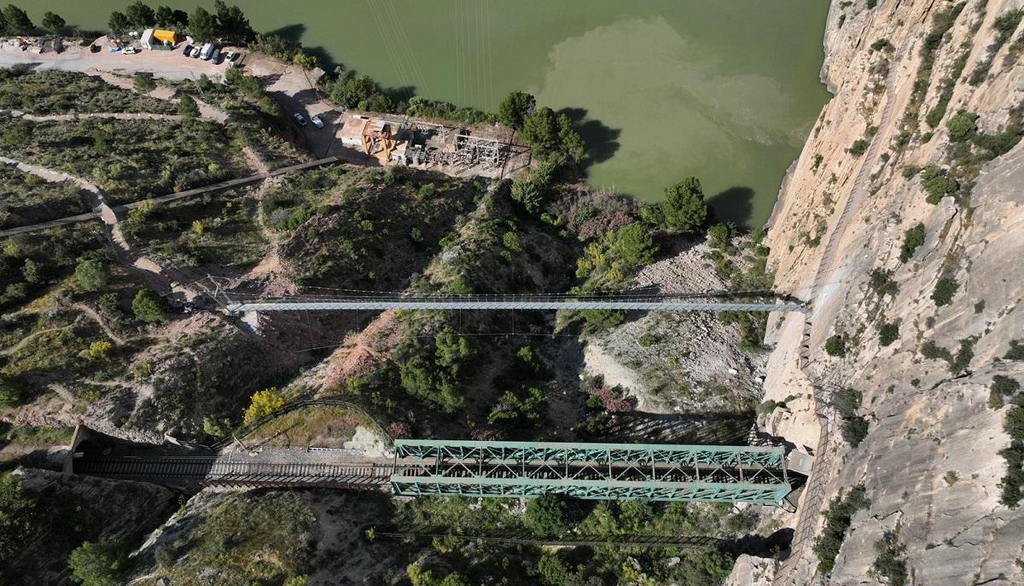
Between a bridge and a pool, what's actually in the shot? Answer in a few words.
bridge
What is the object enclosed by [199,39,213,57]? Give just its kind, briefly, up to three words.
vehicle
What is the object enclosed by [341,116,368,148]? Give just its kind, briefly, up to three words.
building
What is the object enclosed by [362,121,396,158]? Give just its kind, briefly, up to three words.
building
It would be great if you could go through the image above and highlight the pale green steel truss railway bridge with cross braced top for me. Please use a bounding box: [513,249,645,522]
[386,443,799,521]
